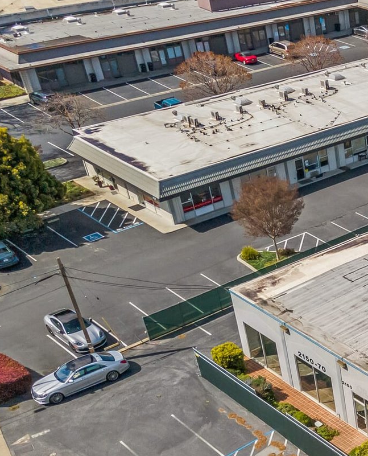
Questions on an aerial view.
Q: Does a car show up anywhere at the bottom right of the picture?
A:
No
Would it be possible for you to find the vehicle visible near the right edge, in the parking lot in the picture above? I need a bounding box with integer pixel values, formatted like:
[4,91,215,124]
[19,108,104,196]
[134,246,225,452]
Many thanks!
[354,27,368,40]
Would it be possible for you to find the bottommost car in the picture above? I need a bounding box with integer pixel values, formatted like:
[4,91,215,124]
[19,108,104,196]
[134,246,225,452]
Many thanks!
[28,345,130,400]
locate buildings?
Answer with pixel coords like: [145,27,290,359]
[0,0,368,90]
[65,54,368,222]
[229,232,368,434]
